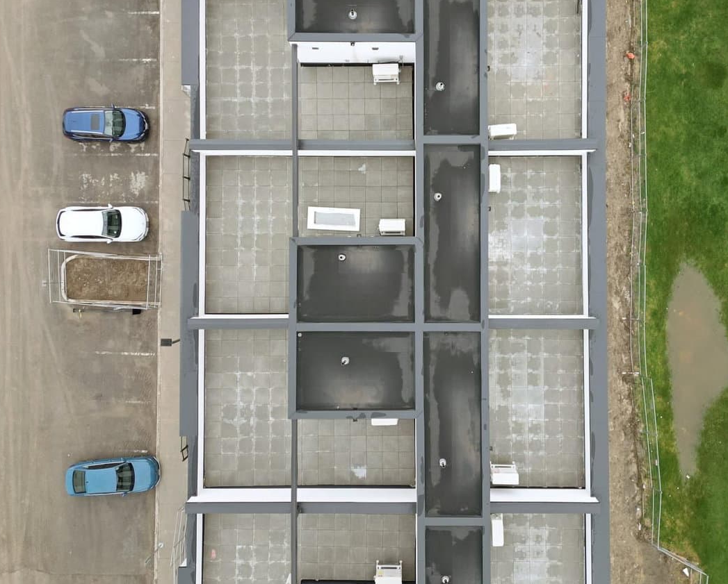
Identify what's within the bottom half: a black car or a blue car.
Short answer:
blue car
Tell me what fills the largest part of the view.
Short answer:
buildings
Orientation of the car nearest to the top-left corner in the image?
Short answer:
from left to right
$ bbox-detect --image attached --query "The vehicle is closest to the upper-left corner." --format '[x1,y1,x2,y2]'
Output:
[61,104,153,147]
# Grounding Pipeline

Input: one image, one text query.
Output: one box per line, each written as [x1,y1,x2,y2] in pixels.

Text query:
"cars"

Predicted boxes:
[66,453,165,498]
[61,104,153,147]
[53,203,152,247]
